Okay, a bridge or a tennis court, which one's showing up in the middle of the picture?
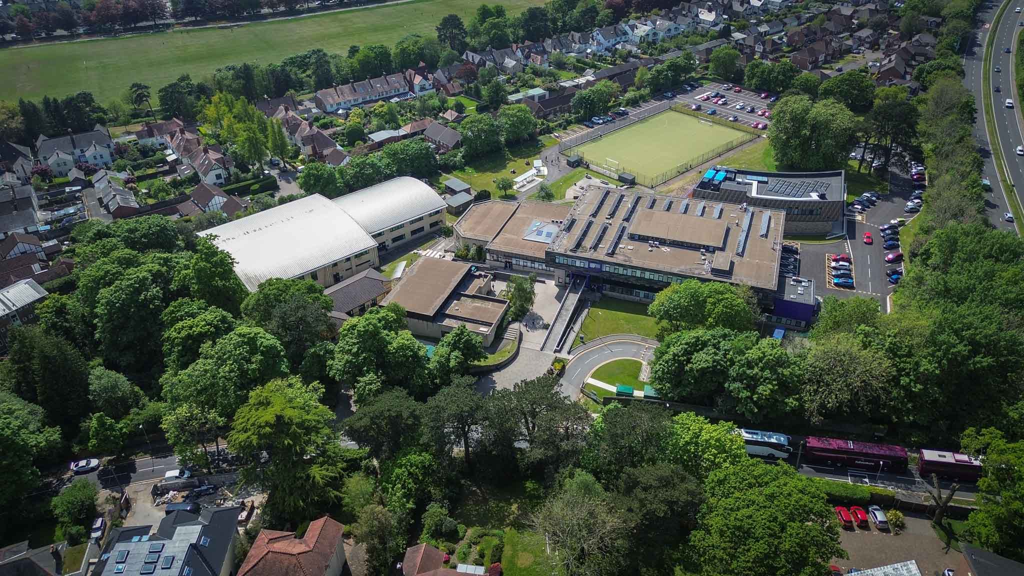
bridge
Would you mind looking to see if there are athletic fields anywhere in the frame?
Yes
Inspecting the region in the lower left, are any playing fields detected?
No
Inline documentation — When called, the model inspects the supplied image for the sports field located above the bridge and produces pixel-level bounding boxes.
[562,108,758,186]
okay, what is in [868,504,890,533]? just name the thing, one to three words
car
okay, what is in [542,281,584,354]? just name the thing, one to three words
bridge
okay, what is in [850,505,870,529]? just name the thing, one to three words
car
